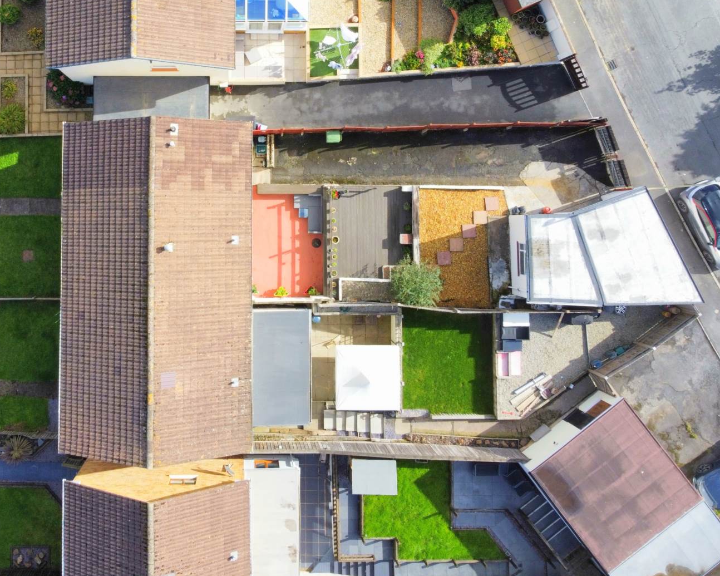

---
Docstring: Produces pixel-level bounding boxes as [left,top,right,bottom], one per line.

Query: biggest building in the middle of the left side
[56,116,256,470]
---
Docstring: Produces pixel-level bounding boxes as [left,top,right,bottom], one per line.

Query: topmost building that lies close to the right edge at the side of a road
[506,188,703,307]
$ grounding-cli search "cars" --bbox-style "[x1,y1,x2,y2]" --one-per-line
[694,457,720,510]
[673,184,720,269]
